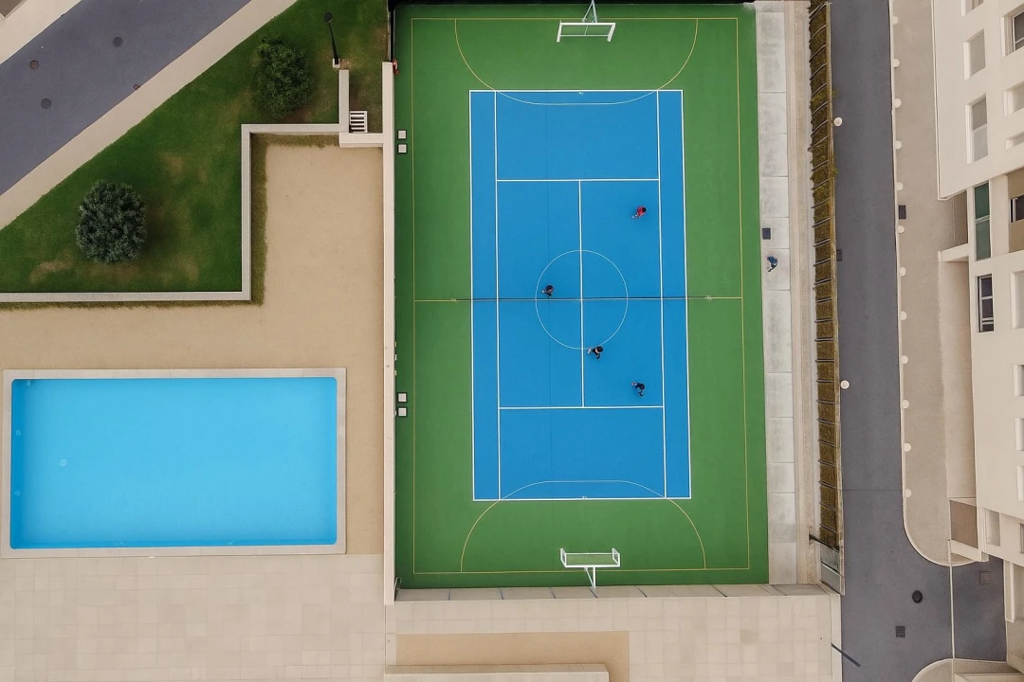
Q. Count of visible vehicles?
zero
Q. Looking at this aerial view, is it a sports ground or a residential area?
sports ground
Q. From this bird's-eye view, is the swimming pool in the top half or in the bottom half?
bottom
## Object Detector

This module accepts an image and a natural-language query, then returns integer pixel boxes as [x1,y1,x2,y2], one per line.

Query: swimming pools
[1,368,346,557]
